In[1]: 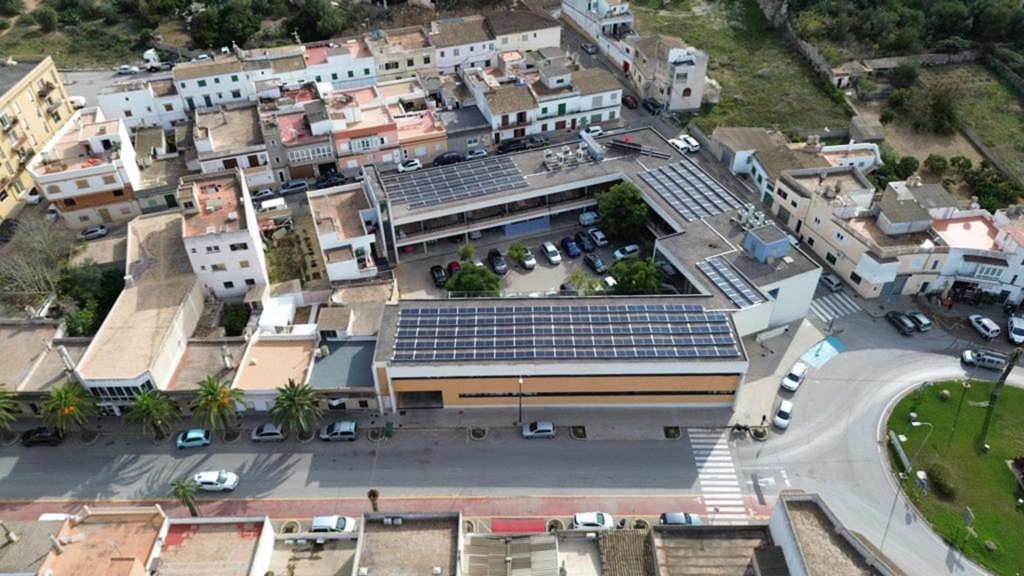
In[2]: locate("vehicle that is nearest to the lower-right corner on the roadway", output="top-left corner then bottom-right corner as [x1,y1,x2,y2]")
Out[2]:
[961,350,1010,370]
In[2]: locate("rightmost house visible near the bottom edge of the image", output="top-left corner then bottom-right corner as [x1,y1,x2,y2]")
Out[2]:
[769,491,913,576]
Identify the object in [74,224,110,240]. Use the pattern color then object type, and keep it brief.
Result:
gray car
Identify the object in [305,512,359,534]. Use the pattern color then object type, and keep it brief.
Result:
white car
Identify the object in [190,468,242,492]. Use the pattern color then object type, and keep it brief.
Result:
white car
